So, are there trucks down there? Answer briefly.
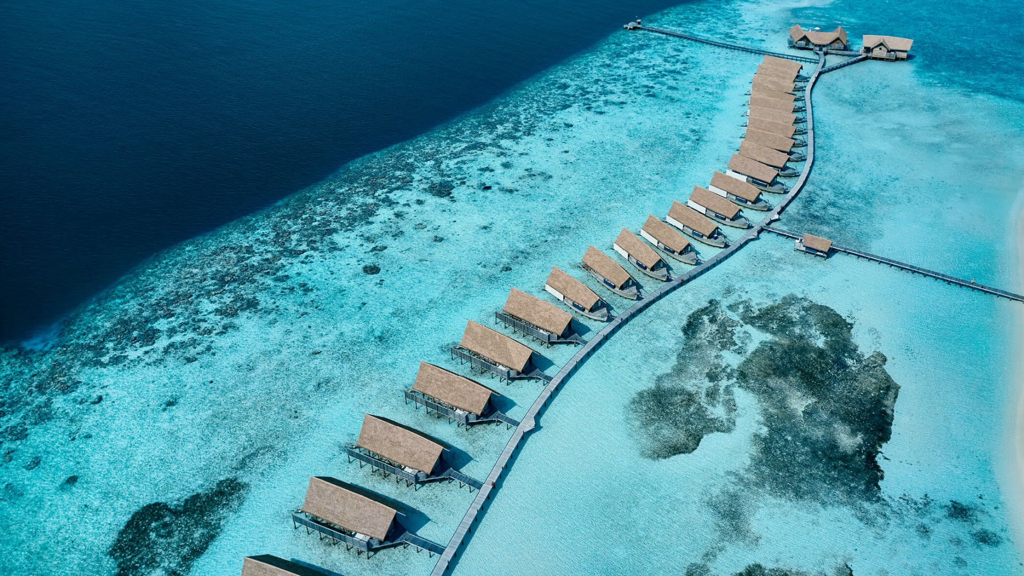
No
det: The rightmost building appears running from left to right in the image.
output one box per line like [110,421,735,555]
[854,35,914,66]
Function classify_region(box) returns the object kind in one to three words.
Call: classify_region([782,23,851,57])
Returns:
building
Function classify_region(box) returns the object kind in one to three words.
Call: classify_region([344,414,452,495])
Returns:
house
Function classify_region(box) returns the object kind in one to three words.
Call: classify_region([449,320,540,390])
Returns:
house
